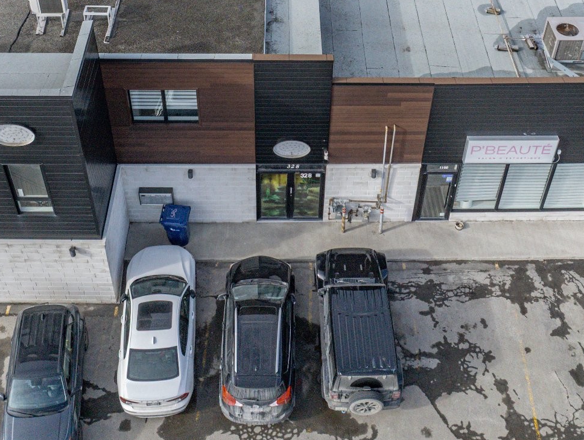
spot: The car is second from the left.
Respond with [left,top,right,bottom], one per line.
[111,247,197,421]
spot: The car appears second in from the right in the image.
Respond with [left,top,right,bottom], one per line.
[214,260,301,429]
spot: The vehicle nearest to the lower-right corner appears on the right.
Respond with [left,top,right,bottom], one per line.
[314,250,405,417]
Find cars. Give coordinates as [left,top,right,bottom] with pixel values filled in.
[111,247,197,421]
[0,300,94,440]
[214,260,301,429]
[314,250,405,417]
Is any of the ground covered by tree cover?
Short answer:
No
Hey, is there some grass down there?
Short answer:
No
